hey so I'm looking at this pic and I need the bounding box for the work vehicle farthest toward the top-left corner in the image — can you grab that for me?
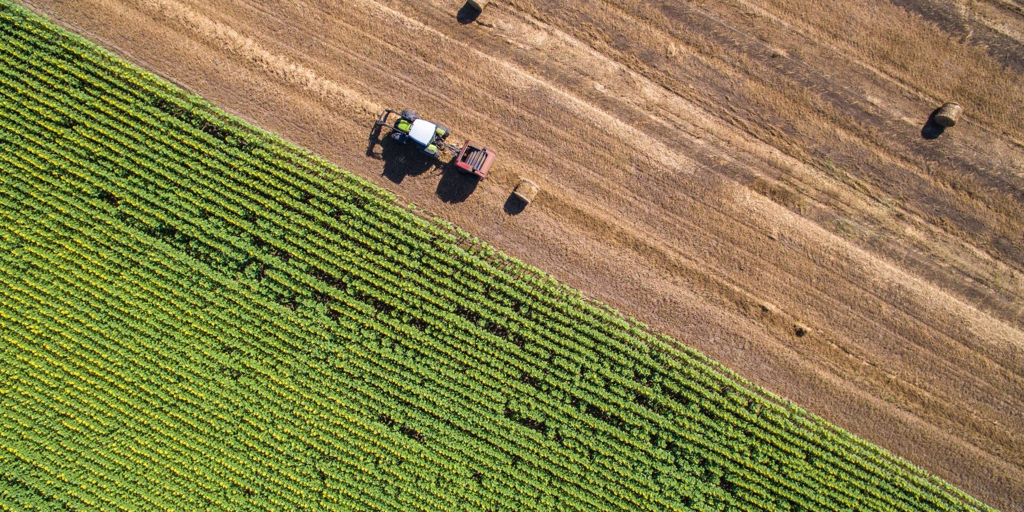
[378,107,457,161]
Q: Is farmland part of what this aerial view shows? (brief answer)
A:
Yes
